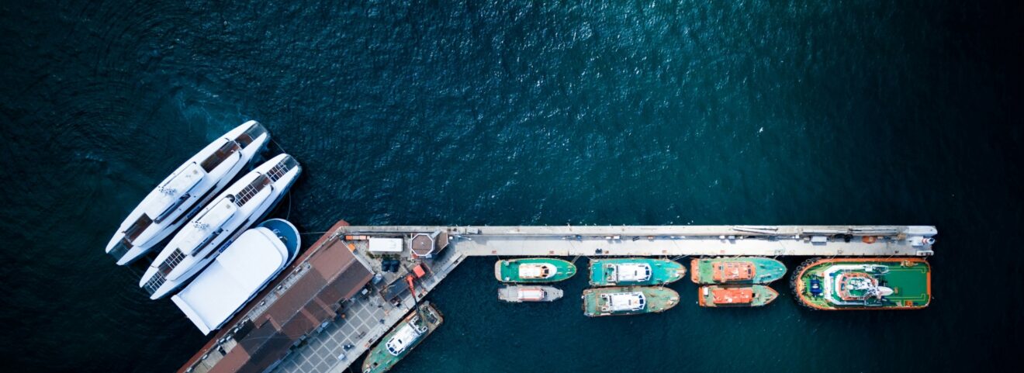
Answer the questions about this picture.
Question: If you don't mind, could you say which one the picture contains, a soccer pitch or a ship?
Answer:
ship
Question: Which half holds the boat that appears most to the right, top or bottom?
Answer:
bottom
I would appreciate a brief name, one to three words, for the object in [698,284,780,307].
boat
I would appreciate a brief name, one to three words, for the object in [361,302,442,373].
boat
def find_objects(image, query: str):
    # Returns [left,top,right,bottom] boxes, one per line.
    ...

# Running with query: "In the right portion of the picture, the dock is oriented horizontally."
[340,225,937,258]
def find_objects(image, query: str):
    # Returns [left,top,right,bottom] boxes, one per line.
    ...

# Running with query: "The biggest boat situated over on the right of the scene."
[789,253,931,313]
